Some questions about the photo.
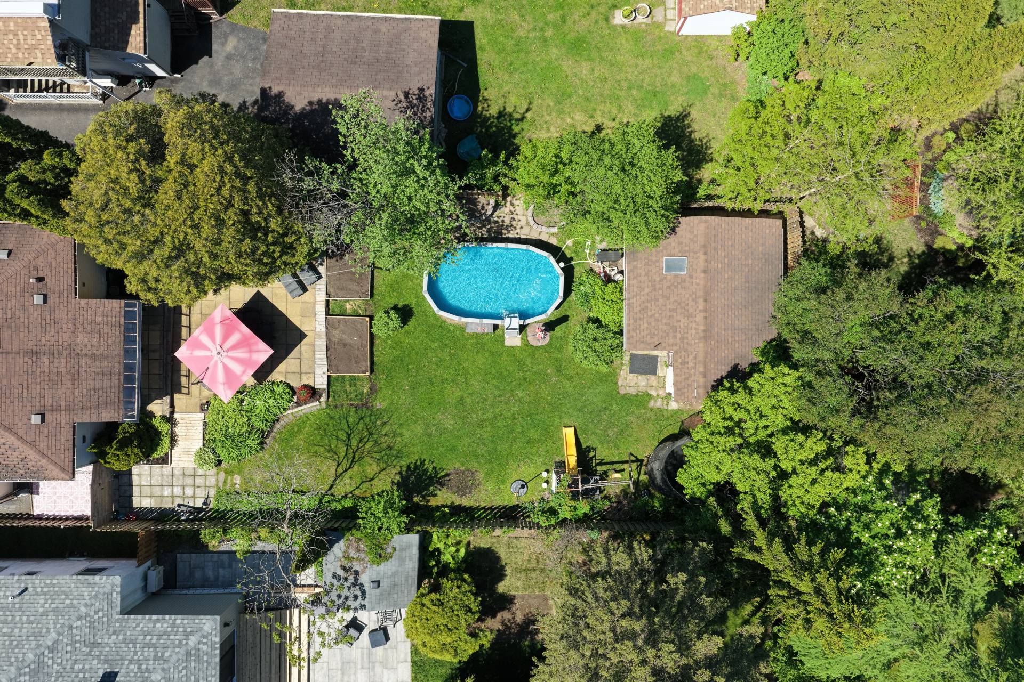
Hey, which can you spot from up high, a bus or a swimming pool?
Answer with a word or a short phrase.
swimming pool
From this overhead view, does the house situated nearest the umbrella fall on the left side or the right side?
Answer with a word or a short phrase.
left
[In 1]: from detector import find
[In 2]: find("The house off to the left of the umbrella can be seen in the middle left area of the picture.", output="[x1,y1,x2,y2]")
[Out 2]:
[0,225,159,484]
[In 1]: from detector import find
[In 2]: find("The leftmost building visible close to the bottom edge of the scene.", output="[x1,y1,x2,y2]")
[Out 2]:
[0,554,243,682]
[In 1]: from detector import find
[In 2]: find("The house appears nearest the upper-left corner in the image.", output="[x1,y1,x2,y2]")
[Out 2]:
[0,0,183,105]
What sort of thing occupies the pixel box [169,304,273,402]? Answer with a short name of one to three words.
umbrella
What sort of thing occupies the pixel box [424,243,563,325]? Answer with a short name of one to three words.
swimming pool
